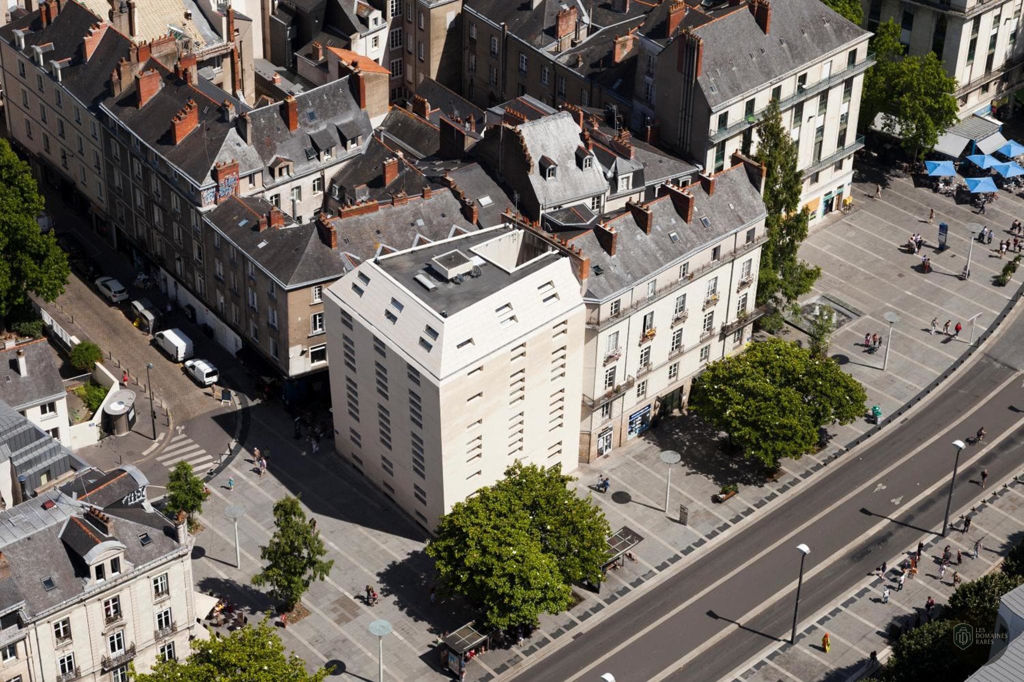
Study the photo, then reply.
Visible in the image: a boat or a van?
van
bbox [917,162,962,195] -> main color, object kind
blue umbrella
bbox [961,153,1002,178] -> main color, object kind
blue umbrella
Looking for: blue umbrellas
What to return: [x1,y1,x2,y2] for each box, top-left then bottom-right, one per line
[961,153,1002,178]
[958,178,1004,211]
[917,162,962,195]
[988,141,1024,164]
[991,161,1024,195]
